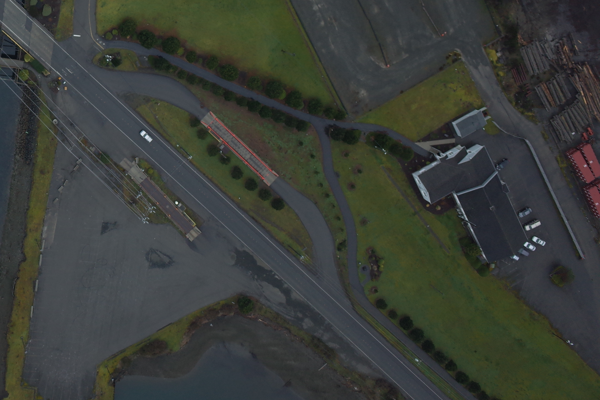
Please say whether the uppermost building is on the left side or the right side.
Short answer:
right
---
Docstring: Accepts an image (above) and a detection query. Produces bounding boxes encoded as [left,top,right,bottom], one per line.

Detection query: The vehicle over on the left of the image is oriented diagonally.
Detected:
[139,129,155,145]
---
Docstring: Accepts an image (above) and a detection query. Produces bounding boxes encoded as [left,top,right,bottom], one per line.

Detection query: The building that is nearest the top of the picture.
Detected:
[451,105,491,138]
